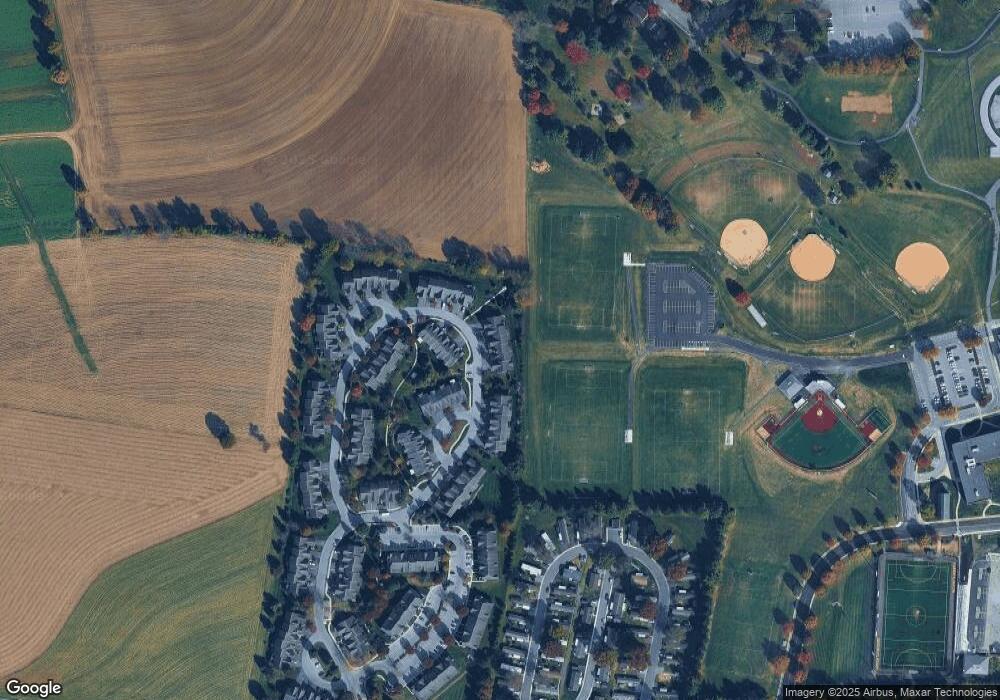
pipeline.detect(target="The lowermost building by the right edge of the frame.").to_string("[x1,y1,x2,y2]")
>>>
[965,655,991,676]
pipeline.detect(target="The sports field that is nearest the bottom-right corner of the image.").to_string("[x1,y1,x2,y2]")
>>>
[872,552,958,676]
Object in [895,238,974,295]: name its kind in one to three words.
baseball field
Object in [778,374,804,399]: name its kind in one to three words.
building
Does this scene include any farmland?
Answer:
Yes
